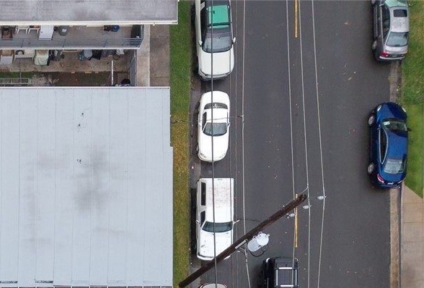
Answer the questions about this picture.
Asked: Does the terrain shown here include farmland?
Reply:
No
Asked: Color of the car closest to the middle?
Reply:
white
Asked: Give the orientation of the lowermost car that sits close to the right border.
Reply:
up and down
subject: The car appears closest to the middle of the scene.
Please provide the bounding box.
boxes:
[194,89,232,166]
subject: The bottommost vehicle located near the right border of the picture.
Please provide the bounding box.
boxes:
[366,103,410,190]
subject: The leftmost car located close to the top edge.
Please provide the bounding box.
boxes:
[194,0,237,82]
